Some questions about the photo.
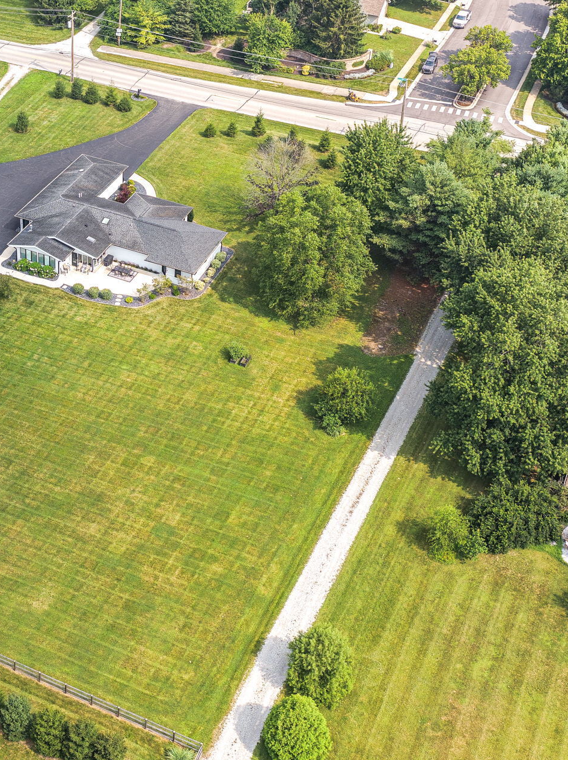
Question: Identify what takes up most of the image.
grass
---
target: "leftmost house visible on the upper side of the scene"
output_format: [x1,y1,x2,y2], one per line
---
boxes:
[6,154,228,289]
